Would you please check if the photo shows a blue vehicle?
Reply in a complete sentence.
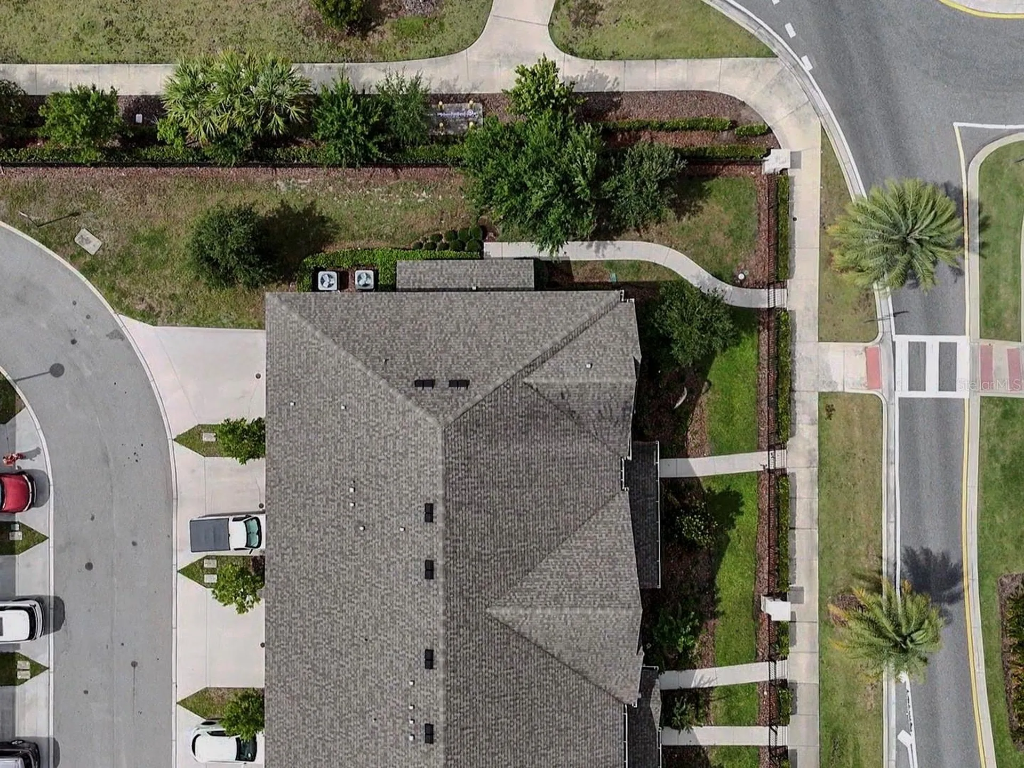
No, no blue vehicle can be seen from above.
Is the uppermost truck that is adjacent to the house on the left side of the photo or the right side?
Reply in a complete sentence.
The uppermost truck that is adjacent to the house appears in the left half of the scene.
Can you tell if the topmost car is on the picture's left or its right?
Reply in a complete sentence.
The topmost car sits on the left side.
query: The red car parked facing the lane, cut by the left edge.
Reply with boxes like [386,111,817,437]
[0,472,39,510]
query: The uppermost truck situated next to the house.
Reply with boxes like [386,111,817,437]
[188,511,265,555]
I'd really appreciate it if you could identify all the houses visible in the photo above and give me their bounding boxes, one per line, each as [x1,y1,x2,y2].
[264,259,664,768]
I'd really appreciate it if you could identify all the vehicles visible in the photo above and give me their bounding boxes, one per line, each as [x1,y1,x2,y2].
[188,511,265,555]
[0,596,47,637]
[193,715,266,763]
[0,472,39,510]
[0,735,44,768]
